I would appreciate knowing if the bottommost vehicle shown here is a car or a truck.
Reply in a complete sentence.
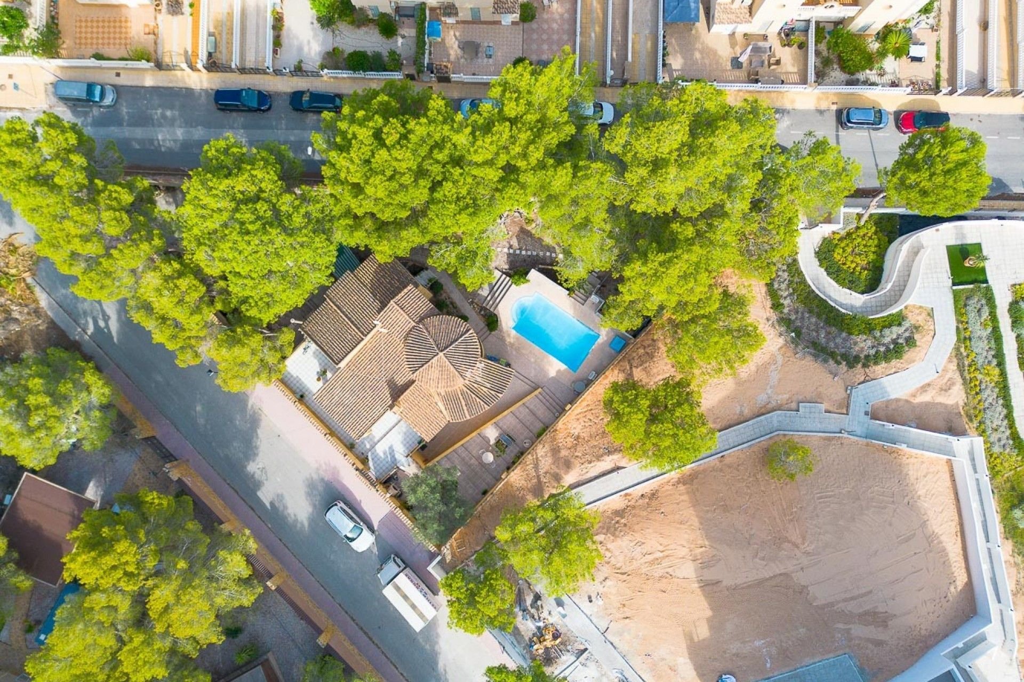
The bottommost vehicle appears to be a truck.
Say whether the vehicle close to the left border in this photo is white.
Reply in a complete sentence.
No, from above the vehicle close to the left border looks blue.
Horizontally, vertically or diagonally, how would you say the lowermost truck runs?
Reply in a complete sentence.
The lowermost truck runs diagonally in the image.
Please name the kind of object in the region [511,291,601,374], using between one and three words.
swimming pool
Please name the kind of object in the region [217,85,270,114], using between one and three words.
car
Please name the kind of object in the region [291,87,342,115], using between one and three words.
car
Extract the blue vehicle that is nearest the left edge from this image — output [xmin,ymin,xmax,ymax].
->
[51,77,115,108]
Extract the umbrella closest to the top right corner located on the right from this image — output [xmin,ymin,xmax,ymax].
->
[732,49,749,68]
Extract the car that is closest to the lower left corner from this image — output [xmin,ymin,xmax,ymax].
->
[323,498,374,551]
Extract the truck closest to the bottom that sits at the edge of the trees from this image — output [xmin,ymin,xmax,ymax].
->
[369,546,443,631]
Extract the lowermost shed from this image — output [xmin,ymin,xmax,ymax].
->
[220,641,294,682]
